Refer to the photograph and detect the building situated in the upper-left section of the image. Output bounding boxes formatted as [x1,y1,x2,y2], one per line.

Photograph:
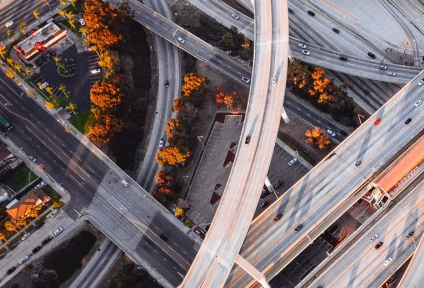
[14,26,68,64]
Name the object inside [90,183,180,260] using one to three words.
bridge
